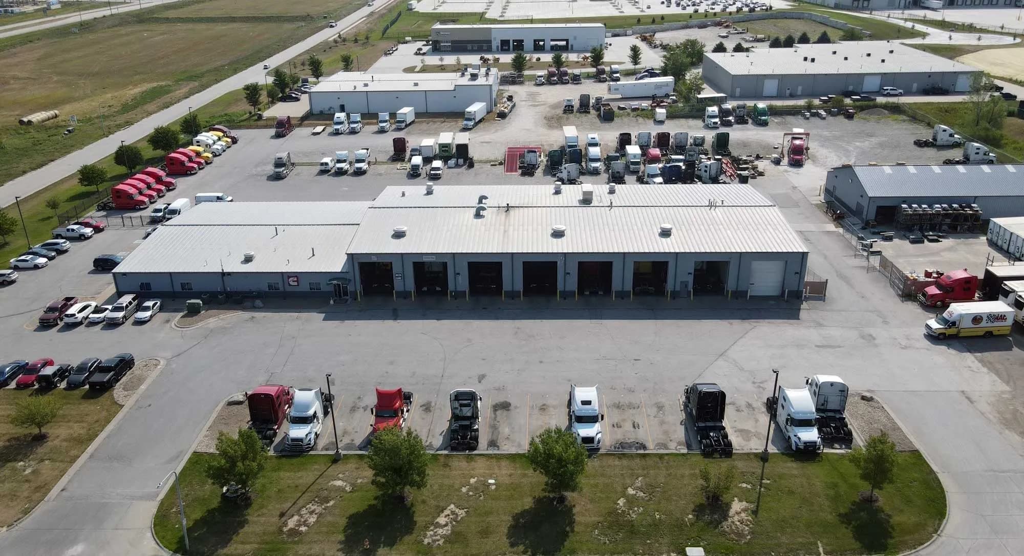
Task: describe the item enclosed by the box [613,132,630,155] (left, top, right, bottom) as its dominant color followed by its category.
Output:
black vehicle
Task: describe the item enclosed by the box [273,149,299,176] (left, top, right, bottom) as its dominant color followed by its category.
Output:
gray truck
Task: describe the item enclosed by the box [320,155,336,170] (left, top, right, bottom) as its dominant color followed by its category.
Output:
white vehicle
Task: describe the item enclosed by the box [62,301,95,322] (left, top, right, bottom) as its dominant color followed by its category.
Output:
white car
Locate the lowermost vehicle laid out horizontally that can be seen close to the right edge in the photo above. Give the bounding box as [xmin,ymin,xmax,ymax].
[922,297,1020,341]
